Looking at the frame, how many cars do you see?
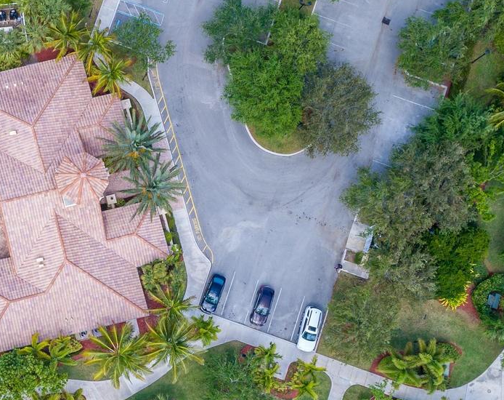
3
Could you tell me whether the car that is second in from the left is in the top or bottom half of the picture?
bottom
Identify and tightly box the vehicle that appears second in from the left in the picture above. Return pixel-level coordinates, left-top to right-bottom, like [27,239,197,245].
[247,283,276,327]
